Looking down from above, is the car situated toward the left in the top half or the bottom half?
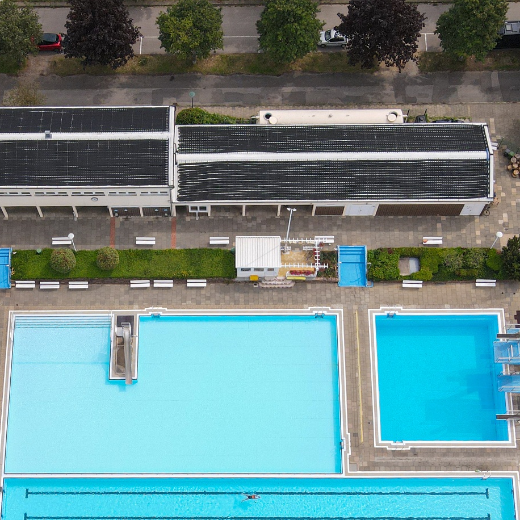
top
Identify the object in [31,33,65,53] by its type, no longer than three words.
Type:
car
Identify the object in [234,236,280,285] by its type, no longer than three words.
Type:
shed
